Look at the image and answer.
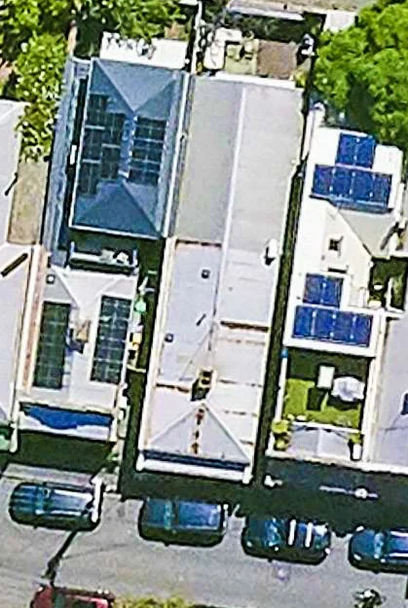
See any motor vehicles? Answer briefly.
Yes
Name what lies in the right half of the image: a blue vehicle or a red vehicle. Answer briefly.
blue vehicle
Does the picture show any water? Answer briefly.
No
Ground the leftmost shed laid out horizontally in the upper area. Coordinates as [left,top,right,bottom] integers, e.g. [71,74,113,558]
[226,0,305,21]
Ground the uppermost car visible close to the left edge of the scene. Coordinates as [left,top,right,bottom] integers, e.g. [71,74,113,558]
[8,478,97,521]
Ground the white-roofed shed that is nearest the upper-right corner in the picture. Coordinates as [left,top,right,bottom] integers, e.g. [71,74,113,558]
[323,9,356,32]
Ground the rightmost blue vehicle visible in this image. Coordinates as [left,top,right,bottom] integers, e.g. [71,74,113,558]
[347,525,408,566]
